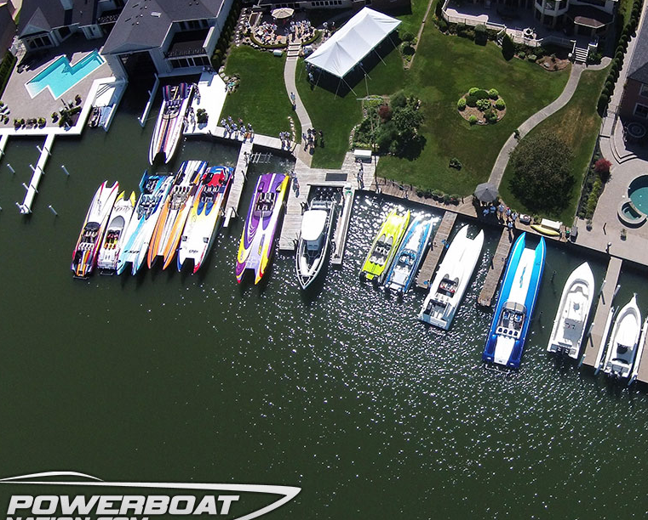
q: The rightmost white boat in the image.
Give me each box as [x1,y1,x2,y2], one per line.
[603,290,641,383]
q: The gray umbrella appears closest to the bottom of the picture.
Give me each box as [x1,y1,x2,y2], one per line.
[475,181,501,202]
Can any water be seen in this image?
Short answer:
Yes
